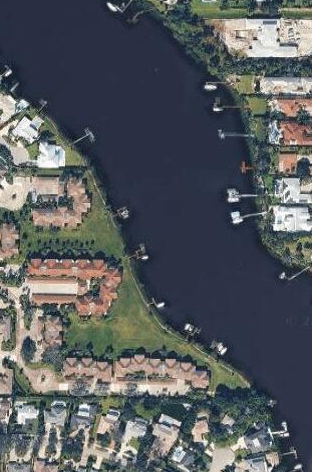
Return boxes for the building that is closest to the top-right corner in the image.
[240,20,295,57]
